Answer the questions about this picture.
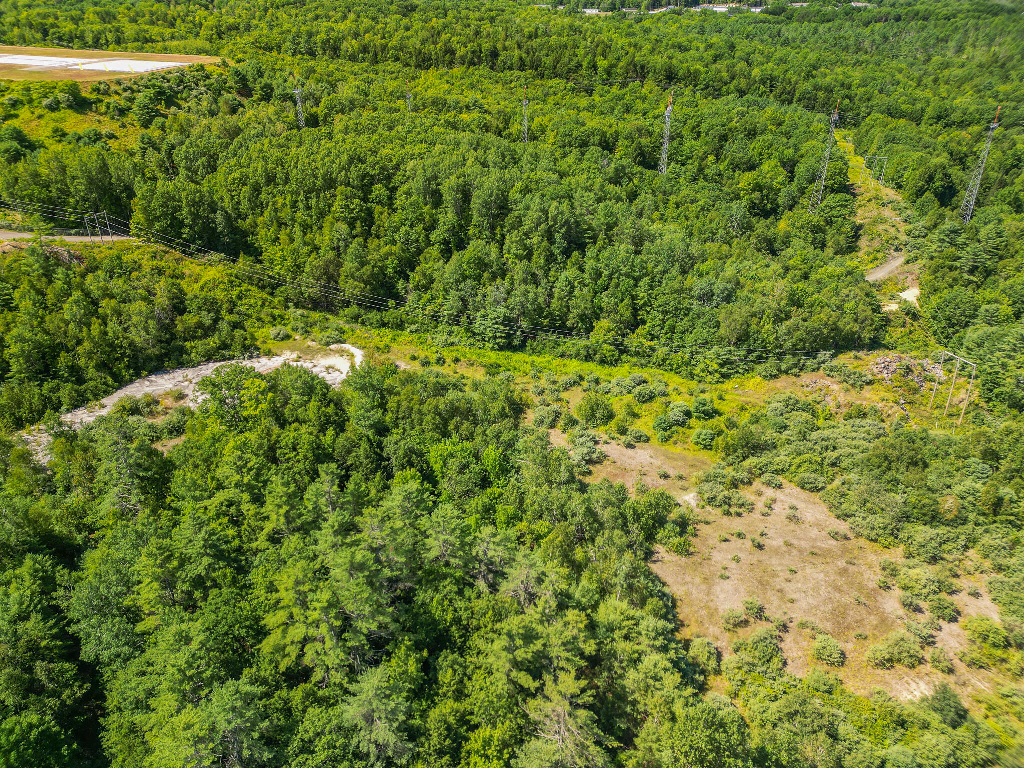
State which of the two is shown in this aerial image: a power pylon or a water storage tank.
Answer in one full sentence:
There is a power pylon in the scene.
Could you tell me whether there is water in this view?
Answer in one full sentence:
No, there is no water in the image.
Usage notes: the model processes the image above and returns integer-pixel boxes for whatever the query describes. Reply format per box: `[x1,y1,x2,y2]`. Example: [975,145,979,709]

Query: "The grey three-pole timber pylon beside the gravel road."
[81,210,114,246]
